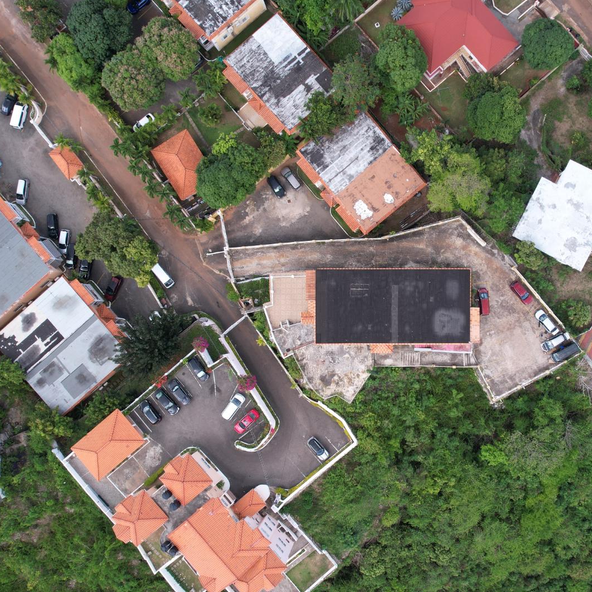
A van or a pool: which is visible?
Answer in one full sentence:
The one in the frame is a van.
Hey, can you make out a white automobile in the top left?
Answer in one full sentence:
Yes, you'll find a white automobile in the top left.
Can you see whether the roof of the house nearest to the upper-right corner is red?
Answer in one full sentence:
Yes, the roof of the house nearest to the upper-right corner appears red.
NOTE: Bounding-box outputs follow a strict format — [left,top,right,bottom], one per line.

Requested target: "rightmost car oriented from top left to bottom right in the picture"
[533,305,560,337]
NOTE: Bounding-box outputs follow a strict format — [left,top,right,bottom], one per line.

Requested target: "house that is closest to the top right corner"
[398,0,521,92]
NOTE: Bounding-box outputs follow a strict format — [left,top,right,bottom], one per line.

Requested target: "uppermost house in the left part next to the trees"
[154,0,267,60]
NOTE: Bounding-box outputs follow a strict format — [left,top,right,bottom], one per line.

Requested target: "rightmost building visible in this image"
[512,159,592,270]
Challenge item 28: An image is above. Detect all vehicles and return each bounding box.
[305,432,330,464]
[154,387,179,418]
[0,88,22,121]
[142,305,173,324]
[221,391,248,423]
[149,259,178,292]
[232,408,263,434]
[187,353,212,383]
[9,100,30,135]
[167,376,192,407]
[55,227,74,259]
[65,242,80,272]
[549,342,580,365]
[539,332,570,353]
[14,176,33,207]
[509,278,533,307]
[266,173,287,202]
[133,111,160,134]
[533,305,560,337]
[280,163,302,193]
[45,211,61,242]
[139,396,163,427]
[79,254,93,285]
[477,287,492,317]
